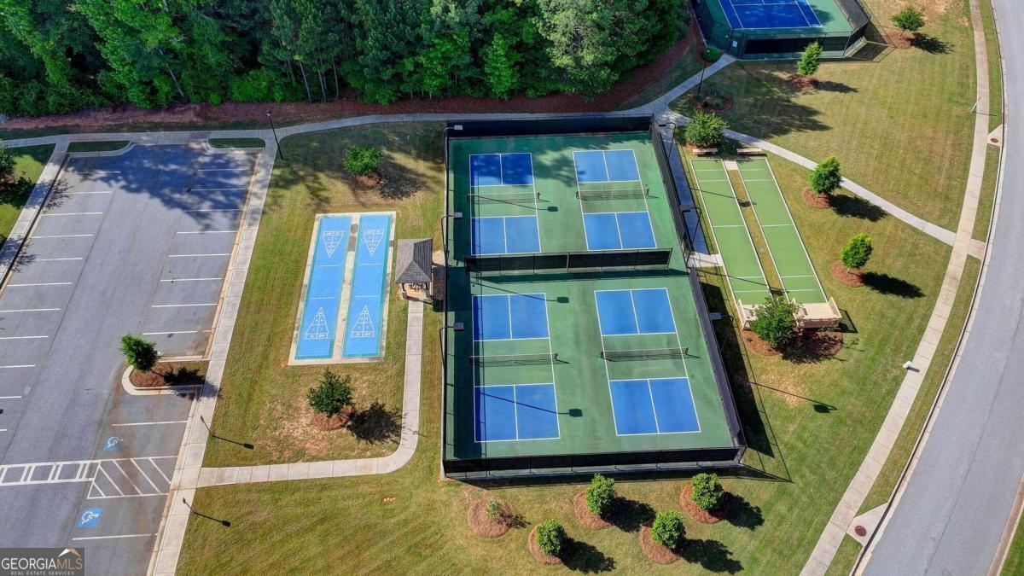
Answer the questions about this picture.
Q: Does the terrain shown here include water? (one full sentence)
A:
No, no water is visible.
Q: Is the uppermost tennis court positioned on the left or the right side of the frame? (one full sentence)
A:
The uppermost tennis court is on the right side of the image.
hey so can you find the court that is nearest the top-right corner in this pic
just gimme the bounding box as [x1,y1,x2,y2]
[689,0,864,60]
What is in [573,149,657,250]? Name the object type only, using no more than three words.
sports court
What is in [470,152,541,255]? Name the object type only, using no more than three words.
sports court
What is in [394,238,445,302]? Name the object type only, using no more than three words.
building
